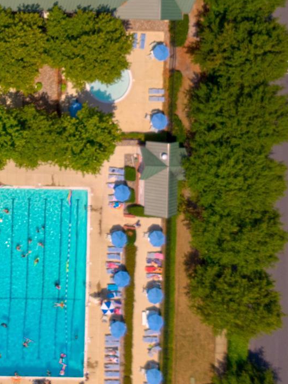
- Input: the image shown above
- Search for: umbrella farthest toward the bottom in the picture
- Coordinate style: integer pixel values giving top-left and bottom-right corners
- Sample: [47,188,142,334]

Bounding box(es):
[145,367,162,384]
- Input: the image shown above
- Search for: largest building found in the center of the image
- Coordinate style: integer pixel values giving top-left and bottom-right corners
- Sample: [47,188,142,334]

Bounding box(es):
[119,141,194,219]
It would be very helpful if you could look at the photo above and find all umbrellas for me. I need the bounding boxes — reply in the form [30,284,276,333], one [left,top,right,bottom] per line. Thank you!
[102,301,114,314]
[110,230,127,247]
[150,111,168,129]
[109,320,127,336]
[145,288,162,304]
[145,367,162,384]
[145,313,162,330]
[147,231,165,248]
[152,44,168,59]
[113,269,130,286]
